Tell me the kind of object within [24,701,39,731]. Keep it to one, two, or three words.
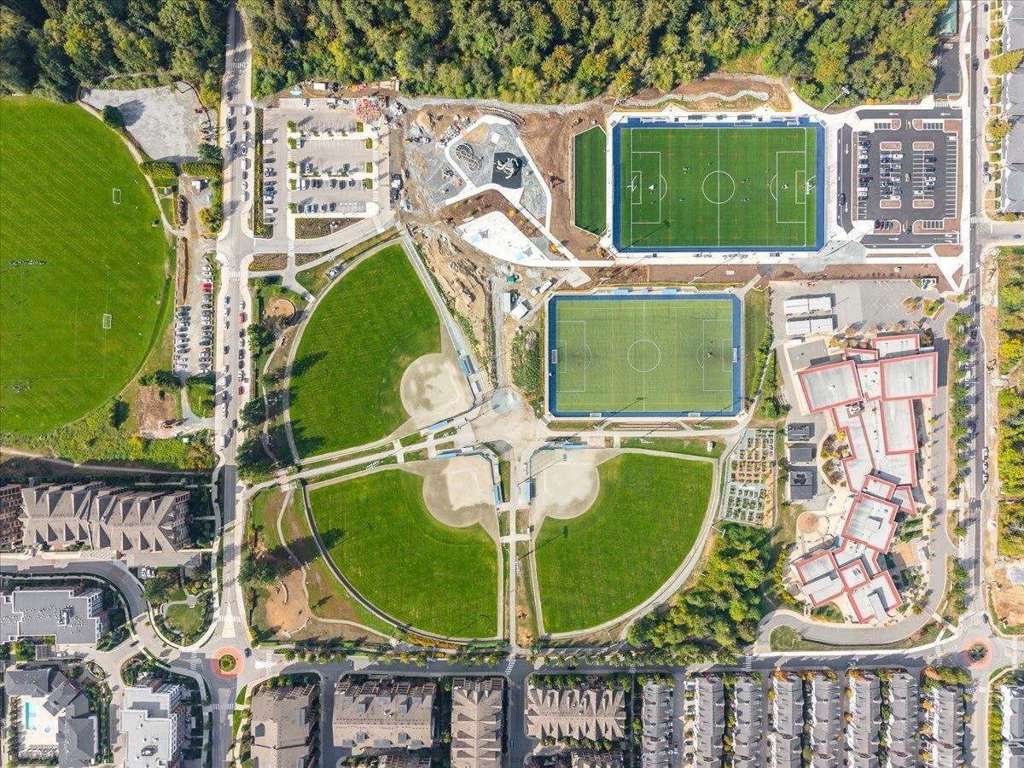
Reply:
swimming pool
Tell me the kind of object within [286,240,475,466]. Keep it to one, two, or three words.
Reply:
baseball field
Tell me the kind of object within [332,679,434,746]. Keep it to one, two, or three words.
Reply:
building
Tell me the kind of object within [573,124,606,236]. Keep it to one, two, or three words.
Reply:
sports field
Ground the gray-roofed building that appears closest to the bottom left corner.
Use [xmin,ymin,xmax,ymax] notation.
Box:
[6,666,99,768]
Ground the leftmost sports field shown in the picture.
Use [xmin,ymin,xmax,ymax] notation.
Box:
[0,96,169,437]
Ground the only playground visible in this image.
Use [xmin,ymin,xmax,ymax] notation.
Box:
[492,152,522,188]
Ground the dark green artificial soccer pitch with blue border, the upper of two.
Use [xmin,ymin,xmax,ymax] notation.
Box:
[613,118,826,252]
